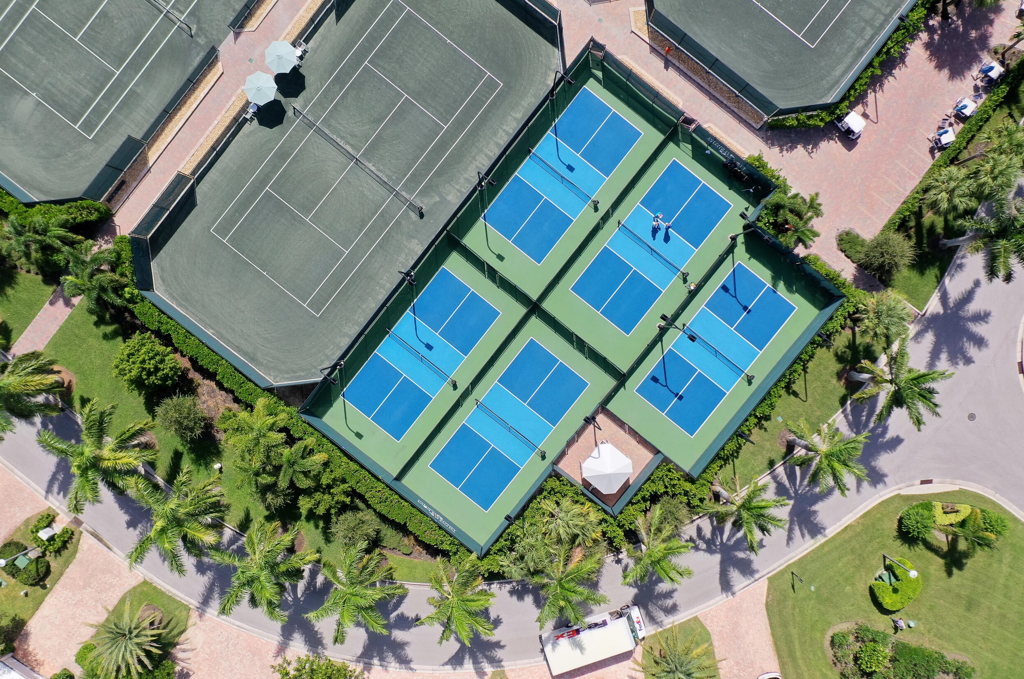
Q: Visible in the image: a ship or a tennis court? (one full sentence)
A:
There is a tennis court in the scene.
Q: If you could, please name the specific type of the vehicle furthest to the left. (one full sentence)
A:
It turns out the vehicle furthest to the left is a truck.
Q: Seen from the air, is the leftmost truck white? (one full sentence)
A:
Yes, the leftmost truck appears white.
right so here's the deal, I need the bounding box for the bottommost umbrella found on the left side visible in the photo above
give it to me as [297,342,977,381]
[245,72,277,105]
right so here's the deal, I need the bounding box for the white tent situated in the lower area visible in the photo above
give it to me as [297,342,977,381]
[582,438,633,494]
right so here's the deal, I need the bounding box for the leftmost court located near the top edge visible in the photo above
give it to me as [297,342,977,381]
[0,0,251,197]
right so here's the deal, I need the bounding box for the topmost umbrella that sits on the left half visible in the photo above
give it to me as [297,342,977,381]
[264,40,298,75]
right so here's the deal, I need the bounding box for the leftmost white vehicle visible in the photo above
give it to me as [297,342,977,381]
[541,600,648,676]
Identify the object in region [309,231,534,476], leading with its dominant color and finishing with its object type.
blue sports court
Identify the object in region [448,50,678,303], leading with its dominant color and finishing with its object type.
blue sports court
